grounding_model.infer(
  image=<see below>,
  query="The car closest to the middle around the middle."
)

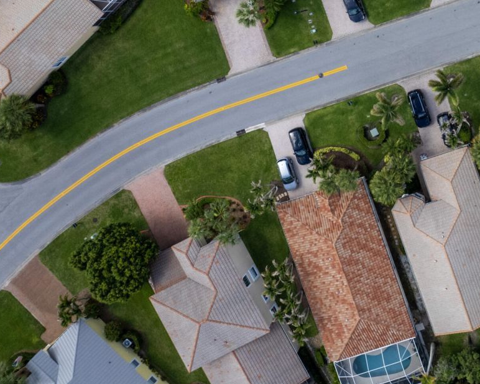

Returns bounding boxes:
[275,155,301,191]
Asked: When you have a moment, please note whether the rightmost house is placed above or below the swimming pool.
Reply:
above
